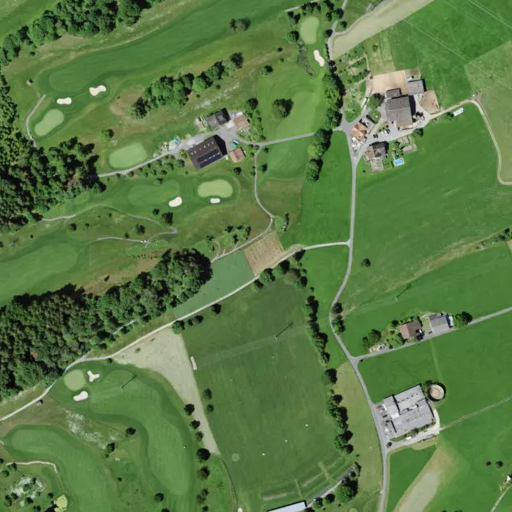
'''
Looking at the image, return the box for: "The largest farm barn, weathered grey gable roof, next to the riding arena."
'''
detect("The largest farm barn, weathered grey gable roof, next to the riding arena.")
[384,96,414,127]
